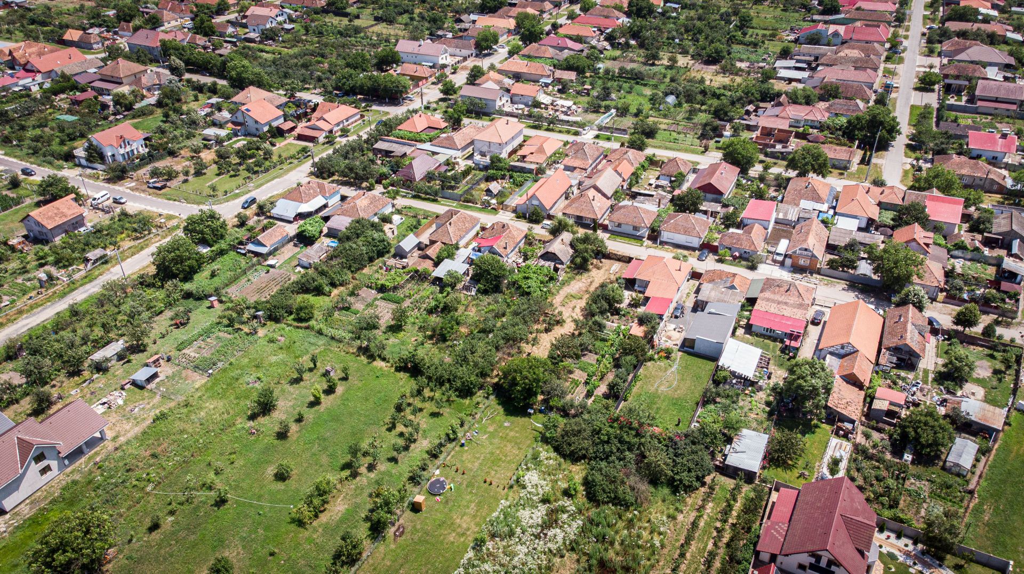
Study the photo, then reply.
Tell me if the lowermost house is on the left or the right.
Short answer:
right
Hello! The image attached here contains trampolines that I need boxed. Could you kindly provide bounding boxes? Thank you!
[428,479,448,496]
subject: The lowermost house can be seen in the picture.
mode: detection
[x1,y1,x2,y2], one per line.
[752,482,879,574]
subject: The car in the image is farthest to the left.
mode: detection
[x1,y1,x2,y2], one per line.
[18,163,37,175]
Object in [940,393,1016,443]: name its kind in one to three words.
shed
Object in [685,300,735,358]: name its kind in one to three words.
building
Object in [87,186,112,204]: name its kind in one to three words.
vehicle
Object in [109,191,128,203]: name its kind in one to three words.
vehicle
